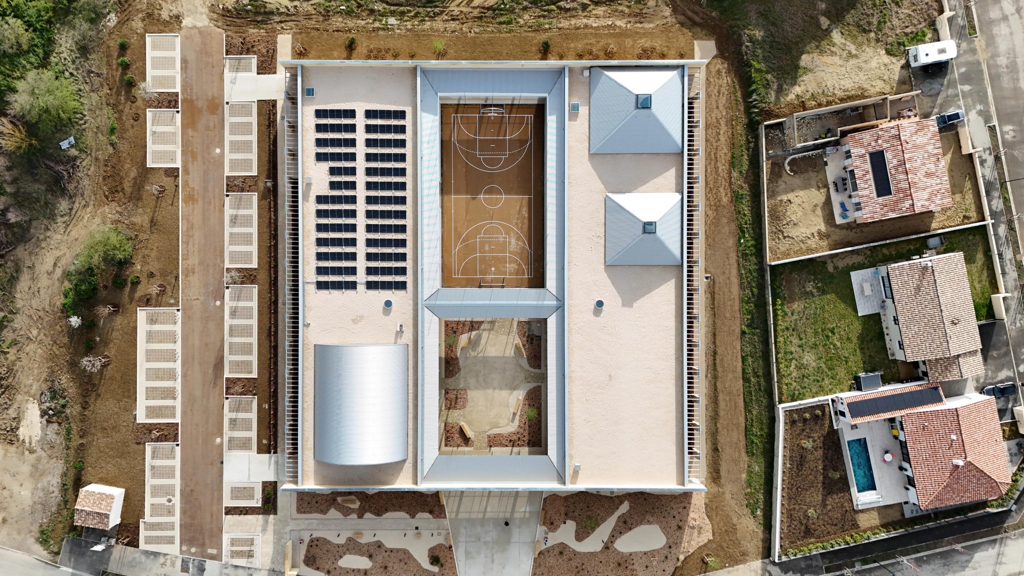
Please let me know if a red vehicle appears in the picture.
No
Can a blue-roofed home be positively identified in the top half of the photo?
No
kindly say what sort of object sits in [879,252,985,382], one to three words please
house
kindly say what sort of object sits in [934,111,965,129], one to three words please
car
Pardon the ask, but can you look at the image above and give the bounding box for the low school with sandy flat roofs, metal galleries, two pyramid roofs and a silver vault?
[280,60,707,491]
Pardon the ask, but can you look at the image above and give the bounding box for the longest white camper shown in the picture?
[902,46,957,72]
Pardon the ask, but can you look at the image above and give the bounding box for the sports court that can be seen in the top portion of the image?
[441,104,544,287]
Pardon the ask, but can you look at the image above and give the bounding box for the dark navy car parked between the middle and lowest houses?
[982,382,1015,399]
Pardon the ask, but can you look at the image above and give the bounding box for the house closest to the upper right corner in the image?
[841,118,952,223]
